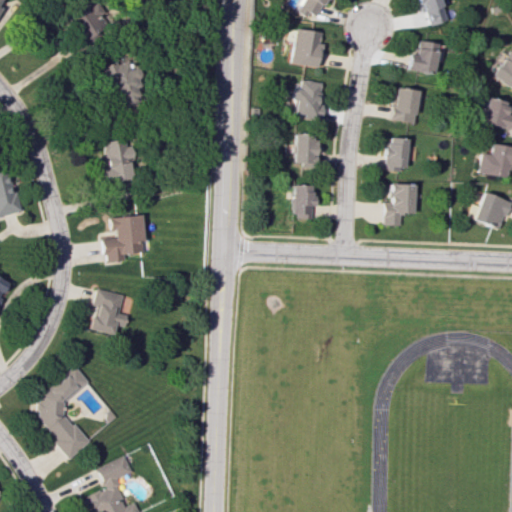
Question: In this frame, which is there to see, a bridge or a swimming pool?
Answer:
swimming pool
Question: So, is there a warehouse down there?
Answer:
No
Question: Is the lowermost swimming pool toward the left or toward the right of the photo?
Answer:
left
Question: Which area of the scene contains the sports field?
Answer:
bottom right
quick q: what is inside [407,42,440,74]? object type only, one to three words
house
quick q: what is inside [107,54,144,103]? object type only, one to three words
house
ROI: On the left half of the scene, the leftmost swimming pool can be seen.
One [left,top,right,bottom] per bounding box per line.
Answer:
[78,390,102,414]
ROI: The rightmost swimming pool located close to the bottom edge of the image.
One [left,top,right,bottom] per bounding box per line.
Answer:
[127,480,148,501]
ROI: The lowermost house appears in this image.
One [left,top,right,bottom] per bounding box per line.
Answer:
[90,454,140,512]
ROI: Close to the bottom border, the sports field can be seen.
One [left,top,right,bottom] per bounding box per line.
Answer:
[388,354,512,512]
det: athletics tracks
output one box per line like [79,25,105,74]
[371,331,512,512]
